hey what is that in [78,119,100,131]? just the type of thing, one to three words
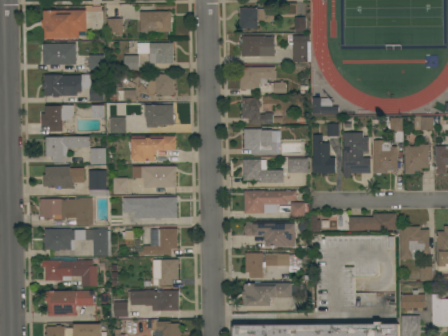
swimming pool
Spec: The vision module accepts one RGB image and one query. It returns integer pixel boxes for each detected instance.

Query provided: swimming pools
[78,119,100,131]
[98,198,108,220]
